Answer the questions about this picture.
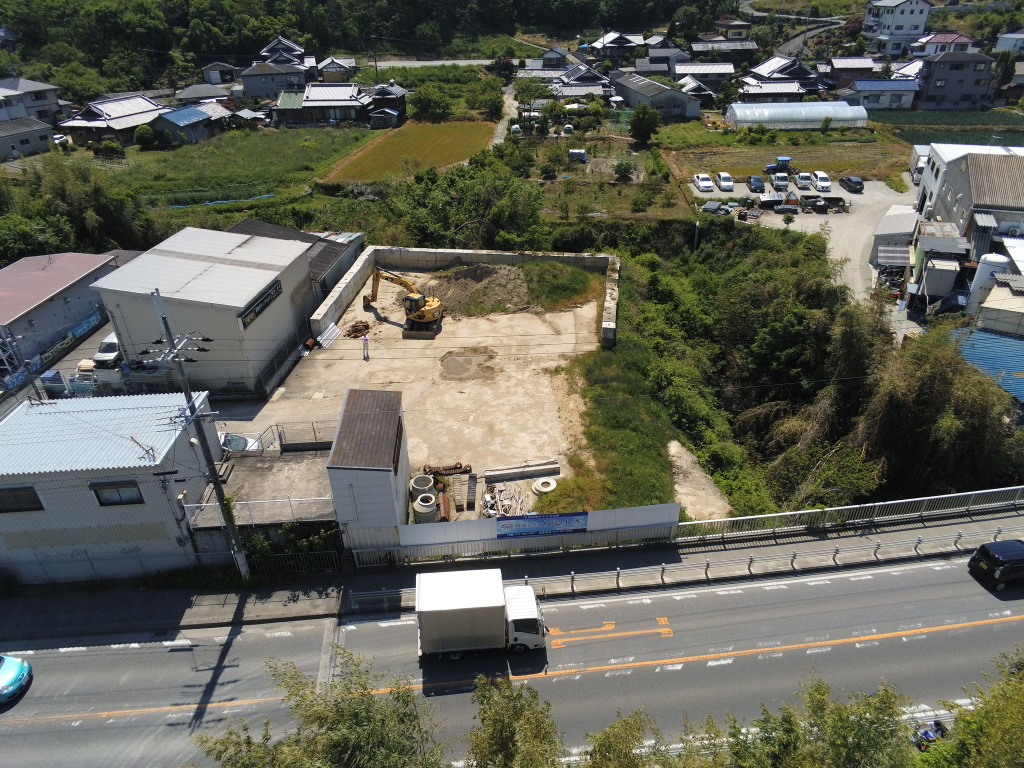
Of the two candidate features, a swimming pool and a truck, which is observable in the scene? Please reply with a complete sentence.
I can see a truck in this picture.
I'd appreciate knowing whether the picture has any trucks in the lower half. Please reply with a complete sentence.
Yes, I can see a truck in the lower half.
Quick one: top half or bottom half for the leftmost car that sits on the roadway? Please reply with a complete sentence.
It is in the bottom half that the leftmost car that sits on the roadway appears.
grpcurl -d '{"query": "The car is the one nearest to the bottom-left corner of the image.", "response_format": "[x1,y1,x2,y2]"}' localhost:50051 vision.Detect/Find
[0,654,36,714]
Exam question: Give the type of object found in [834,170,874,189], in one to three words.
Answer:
car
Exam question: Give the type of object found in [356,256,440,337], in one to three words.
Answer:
work vehicle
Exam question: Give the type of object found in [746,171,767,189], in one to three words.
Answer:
car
